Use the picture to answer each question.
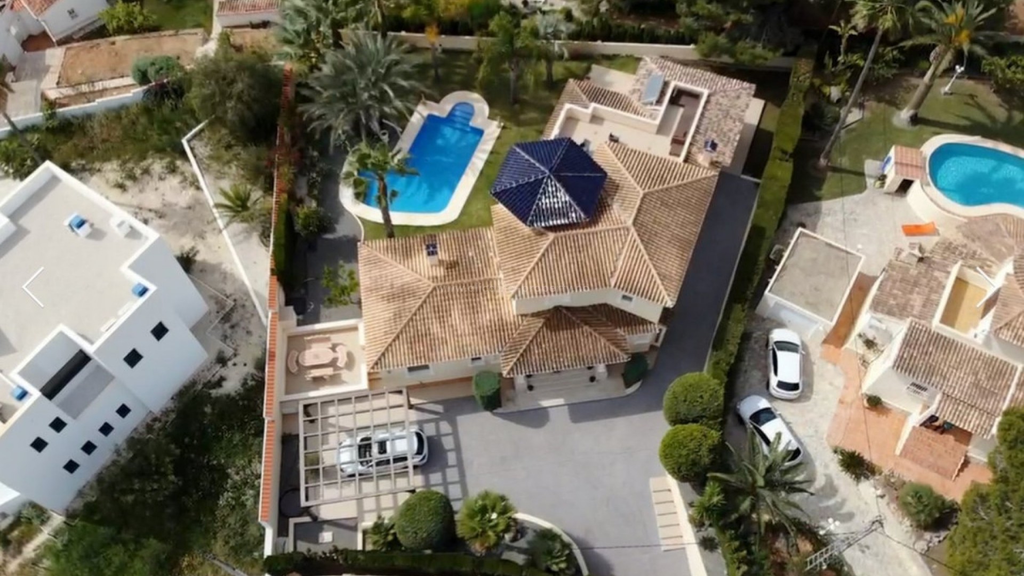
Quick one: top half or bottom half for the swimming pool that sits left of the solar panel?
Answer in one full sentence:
The swimming pool that sits left of the solar panel is in the top half of the image.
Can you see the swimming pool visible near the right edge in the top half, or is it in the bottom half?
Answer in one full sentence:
Seen from above, the swimming pool visible near the right edge lies in the top half of the view.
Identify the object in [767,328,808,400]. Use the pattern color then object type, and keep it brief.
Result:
white car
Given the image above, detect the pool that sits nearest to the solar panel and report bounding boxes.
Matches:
[339,90,504,226]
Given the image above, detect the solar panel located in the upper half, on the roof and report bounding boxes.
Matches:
[643,72,663,103]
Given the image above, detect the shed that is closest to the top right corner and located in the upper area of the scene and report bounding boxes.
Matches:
[882,146,924,196]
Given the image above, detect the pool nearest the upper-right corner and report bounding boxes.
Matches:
[908,134,1024,235]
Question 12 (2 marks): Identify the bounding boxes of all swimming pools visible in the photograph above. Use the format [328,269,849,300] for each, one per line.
[339,90,504,226]
[908,134,1024,235]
